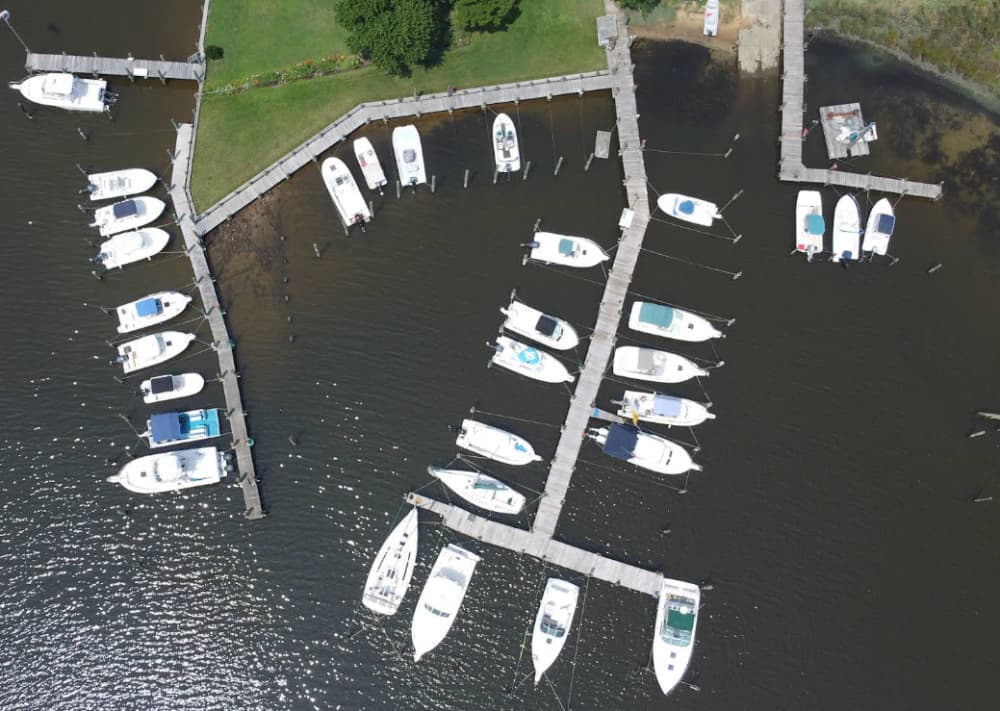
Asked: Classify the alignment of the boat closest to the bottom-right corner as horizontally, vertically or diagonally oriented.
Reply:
vertically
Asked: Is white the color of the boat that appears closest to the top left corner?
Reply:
Yes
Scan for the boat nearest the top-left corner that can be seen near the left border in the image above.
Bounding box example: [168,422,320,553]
[7,73,120,111]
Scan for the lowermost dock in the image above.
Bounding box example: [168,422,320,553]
[403,493,664,599]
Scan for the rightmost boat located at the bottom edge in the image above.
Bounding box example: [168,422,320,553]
[651,577,702,696]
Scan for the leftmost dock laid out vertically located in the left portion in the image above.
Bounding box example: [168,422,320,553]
[163,120,267,518]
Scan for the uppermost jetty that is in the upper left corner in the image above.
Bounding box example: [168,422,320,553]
[21,44,200,87]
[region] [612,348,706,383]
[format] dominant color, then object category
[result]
white boat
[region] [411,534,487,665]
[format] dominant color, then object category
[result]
white boat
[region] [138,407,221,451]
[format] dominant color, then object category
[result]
blue boat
